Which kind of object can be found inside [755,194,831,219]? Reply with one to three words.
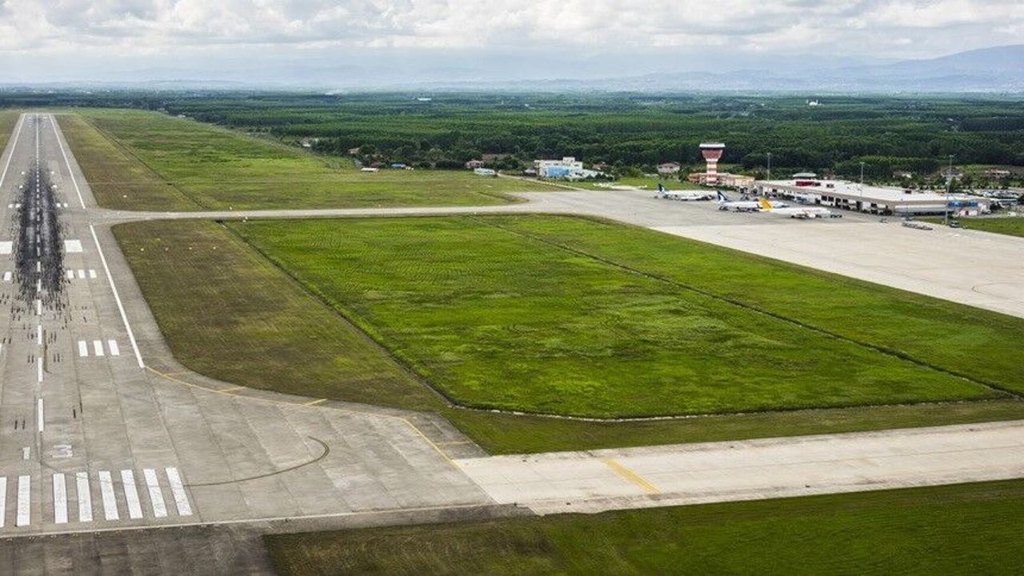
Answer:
airplane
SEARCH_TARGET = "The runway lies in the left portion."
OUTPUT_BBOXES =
[0,114,502,540]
